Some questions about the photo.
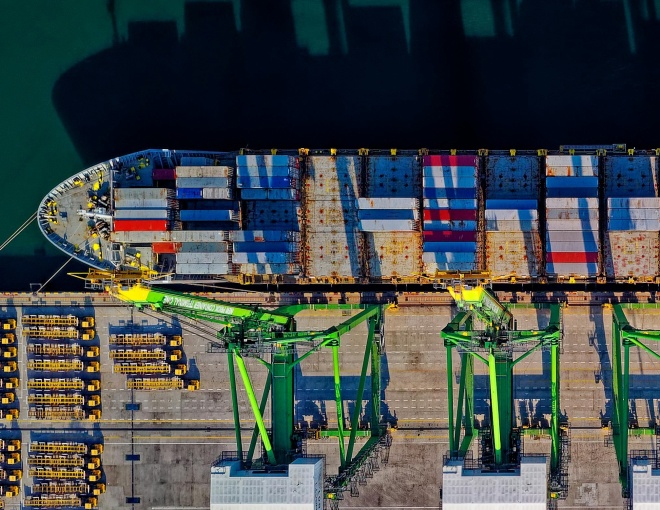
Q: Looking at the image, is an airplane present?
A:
No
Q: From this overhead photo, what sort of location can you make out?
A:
port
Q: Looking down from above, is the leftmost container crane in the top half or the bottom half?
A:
bottom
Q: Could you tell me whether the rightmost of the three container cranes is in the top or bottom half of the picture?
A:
bottom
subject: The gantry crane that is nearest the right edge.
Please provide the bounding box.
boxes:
[594,300,660,510]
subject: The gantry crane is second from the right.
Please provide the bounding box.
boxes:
[421,268,574,510]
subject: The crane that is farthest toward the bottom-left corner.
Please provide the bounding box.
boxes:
[72,268,400,510]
